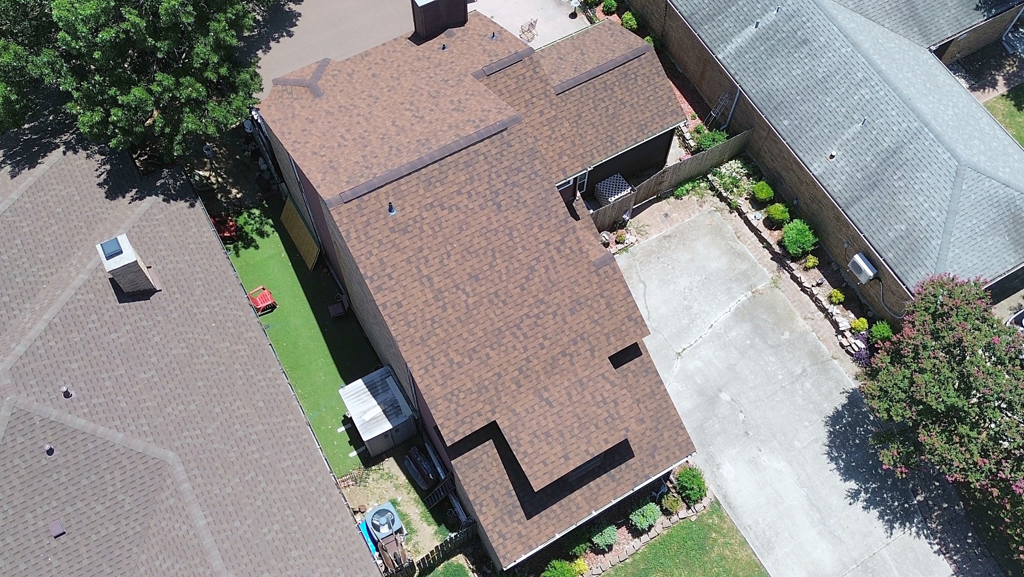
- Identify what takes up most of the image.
buildings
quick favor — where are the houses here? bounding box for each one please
[624,0,1024,340]
[0,115,386,577]
[191,0,700,572]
